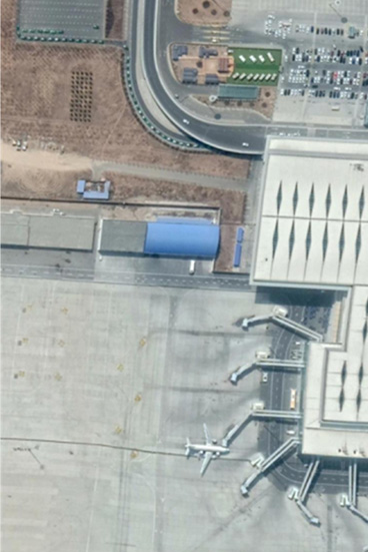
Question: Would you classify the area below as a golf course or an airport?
airport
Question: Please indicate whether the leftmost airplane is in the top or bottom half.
bottom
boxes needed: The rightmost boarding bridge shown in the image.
[338,460,368,521]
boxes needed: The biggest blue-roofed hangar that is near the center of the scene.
[143,222,220,258]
